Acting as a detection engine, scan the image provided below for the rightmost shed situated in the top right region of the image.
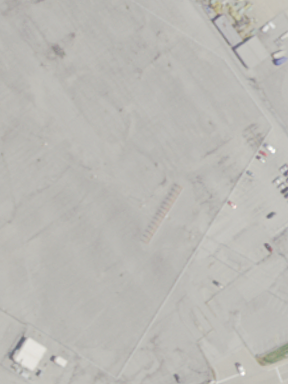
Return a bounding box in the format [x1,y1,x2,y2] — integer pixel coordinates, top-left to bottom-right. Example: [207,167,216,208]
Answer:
[236,36,270,68]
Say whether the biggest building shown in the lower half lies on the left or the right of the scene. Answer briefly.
left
